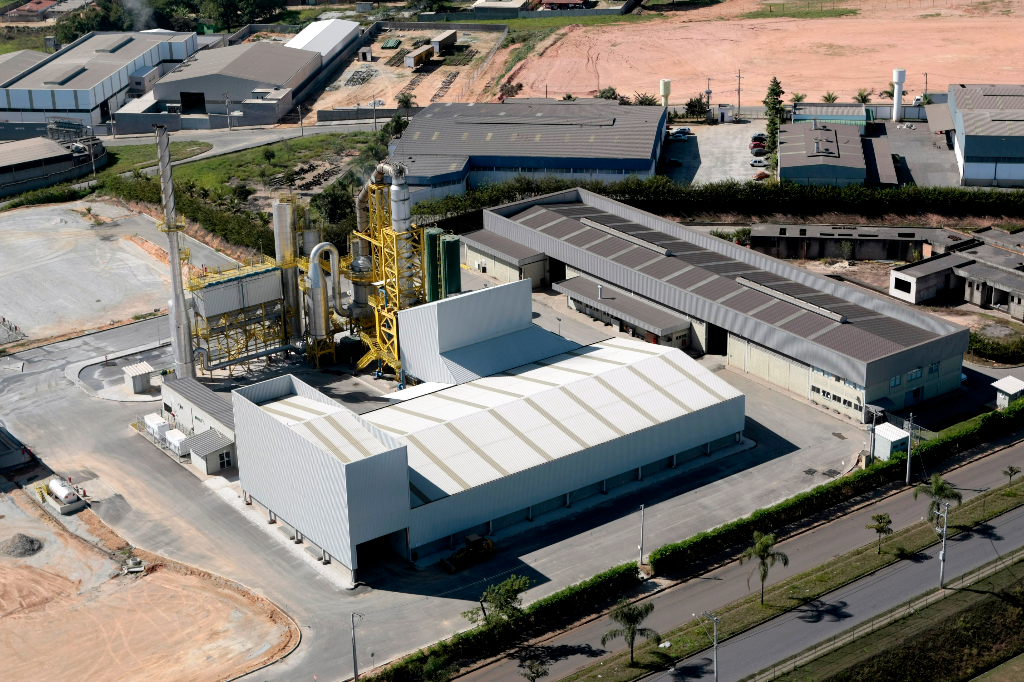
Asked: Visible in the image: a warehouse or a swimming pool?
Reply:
warehouse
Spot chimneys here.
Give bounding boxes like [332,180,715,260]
[154,124,199,377]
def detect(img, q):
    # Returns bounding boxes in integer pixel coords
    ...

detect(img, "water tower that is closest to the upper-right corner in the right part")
[891,66,908,121]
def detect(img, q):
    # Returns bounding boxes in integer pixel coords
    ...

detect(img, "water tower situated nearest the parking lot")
[659,78,672,121]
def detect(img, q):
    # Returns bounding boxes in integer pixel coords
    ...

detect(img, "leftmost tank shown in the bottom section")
[20,467,86,513]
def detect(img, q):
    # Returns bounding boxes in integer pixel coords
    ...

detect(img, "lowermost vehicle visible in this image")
[440,535,498,580]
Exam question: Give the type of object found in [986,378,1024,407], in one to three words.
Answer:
shed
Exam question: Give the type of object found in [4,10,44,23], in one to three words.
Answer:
house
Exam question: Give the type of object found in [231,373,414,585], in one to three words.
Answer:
building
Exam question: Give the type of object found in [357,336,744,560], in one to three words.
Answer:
warehouse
